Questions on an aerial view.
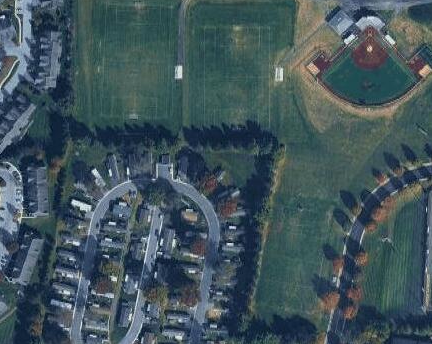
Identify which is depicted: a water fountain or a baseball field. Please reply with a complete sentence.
This aerial view contains a baseball field.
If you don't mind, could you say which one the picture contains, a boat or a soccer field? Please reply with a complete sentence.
Of the two, only a soccer field appears.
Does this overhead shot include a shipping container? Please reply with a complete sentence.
No, no shipping container is visible in the view.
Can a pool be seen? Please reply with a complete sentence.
No, there is no pool in the image.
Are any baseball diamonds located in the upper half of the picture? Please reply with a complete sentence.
Yes, I can see a baseball diamond in the upper half of the picture.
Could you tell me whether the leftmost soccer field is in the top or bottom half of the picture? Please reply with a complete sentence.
The leftmost soccer field is in the top half of the image.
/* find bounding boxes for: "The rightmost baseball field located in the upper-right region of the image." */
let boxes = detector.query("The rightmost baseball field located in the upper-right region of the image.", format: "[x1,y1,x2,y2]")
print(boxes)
[318,23,421,107]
